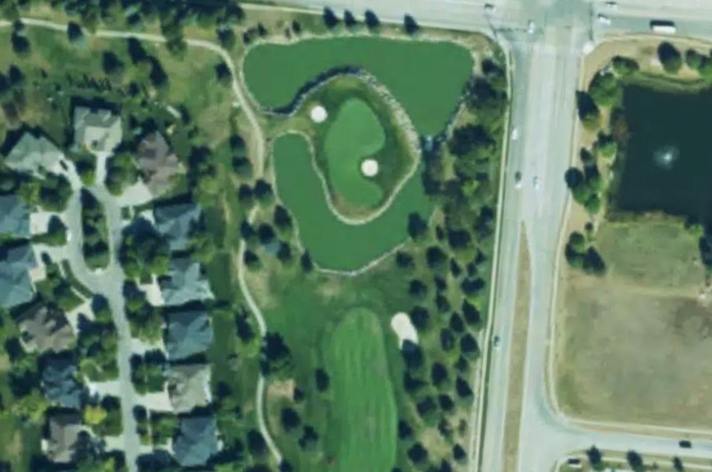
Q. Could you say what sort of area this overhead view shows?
golf course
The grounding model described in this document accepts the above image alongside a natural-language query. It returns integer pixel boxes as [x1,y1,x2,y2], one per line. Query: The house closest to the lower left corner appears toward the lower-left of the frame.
[48,416,86,463]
